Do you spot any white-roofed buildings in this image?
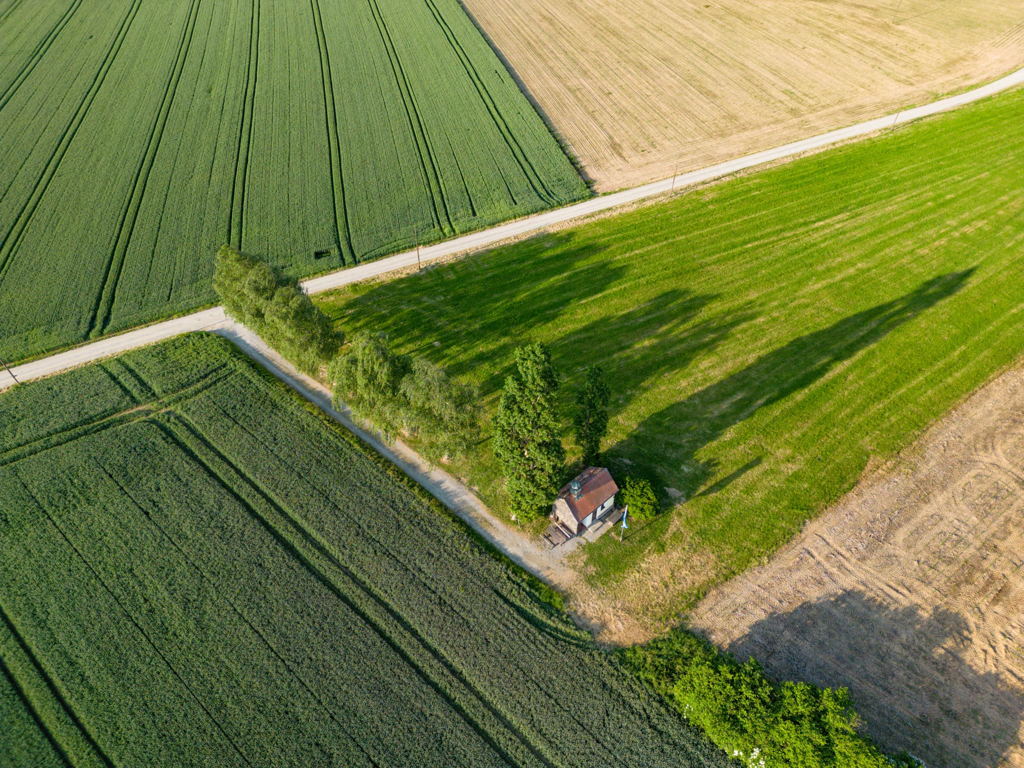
No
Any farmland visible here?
Yes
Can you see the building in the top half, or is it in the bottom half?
bottom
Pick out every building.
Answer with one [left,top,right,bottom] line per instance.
[551,468,619,536]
